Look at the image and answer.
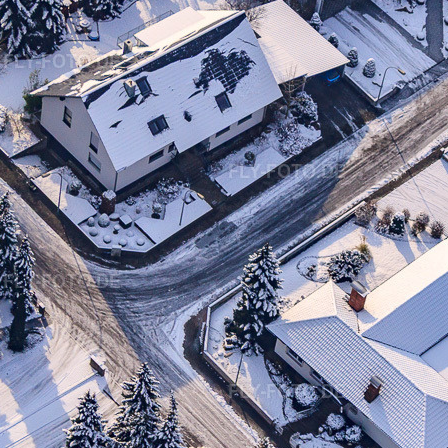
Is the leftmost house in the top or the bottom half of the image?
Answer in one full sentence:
It is in the top half that the leftmost house appears.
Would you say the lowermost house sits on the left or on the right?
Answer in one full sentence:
The lowermost house sits on the right side.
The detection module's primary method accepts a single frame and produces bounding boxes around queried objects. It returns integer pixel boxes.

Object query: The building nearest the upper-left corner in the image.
[30,4,283,184]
